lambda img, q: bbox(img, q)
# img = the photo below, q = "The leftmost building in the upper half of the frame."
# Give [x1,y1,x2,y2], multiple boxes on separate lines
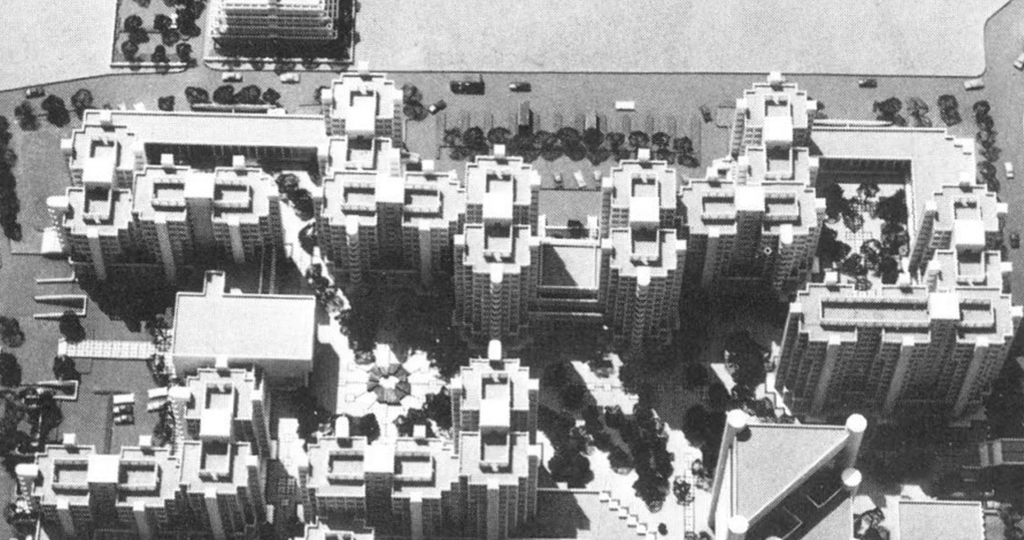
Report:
[49,115,148,282]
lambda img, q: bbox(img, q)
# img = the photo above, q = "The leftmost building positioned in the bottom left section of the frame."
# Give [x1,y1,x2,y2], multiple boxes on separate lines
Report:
[16,434,186,540]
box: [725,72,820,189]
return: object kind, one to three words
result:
building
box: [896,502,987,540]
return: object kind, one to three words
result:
building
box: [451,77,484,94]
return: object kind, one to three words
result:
vehicle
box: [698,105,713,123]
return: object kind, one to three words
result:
car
